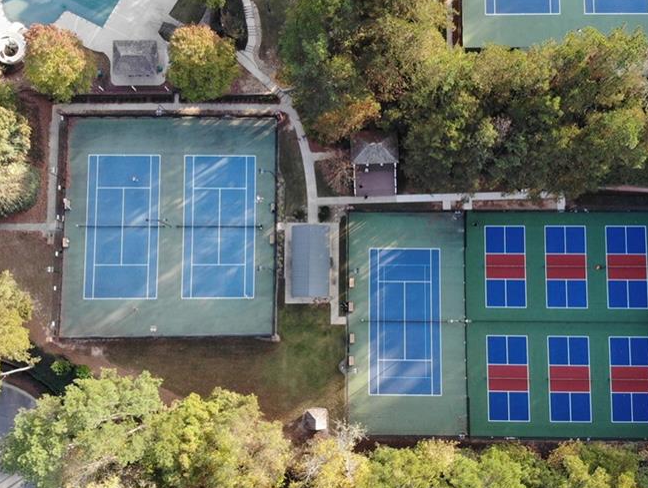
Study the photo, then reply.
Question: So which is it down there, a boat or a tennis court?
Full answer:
Looking from above, you can make out a tennis court.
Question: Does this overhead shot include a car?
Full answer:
No, no car is visible in the view.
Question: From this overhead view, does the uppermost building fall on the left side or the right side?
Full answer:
The uppermost building appears in the left half of the scene.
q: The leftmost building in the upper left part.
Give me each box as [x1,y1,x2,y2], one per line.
[111,40,159,81]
